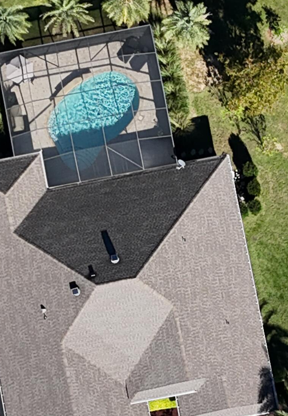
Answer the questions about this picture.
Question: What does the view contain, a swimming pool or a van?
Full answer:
Of the two, only a swimming pool appears.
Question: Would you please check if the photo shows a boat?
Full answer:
No, the scene contains no boat.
